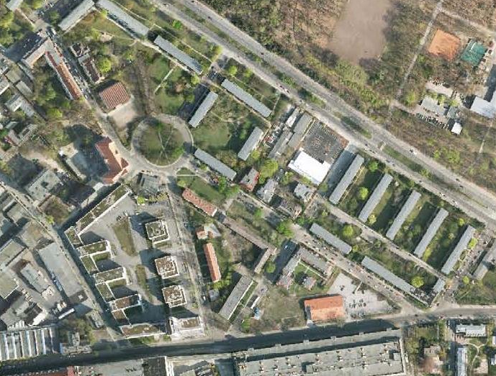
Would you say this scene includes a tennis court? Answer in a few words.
Yes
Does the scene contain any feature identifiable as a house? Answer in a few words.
Yes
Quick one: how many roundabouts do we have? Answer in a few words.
1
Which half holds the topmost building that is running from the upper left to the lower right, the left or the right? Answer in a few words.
left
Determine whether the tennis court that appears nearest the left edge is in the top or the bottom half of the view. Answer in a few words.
top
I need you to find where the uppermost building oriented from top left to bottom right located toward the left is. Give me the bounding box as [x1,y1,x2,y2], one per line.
[98,0,151,37]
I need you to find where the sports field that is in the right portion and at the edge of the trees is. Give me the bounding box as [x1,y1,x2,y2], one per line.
[332,0,390,61]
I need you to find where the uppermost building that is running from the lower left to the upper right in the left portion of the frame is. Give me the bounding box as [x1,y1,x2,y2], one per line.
[60,0,96,32]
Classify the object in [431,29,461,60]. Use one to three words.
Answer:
tennis court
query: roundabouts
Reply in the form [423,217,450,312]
[126,105,196,176]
